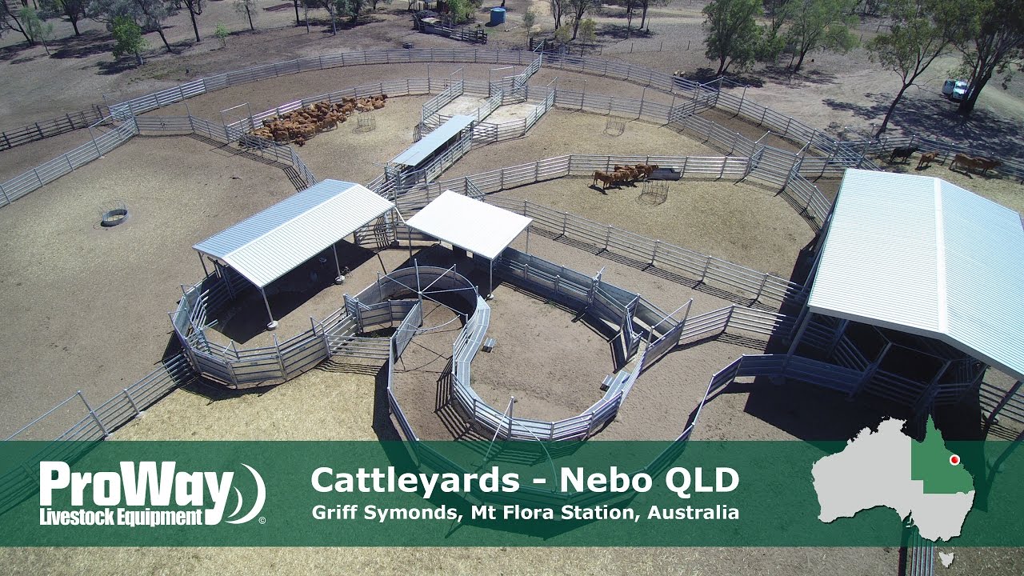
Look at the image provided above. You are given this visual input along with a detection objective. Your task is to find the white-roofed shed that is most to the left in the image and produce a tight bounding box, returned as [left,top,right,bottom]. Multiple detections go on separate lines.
[191,178,400,326]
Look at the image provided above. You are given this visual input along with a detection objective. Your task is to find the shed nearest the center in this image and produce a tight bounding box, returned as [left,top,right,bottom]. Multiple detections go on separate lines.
[405,189,534,293]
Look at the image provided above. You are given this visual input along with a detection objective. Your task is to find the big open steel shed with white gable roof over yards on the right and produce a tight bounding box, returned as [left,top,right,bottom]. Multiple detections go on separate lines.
[779,168,1024,457]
